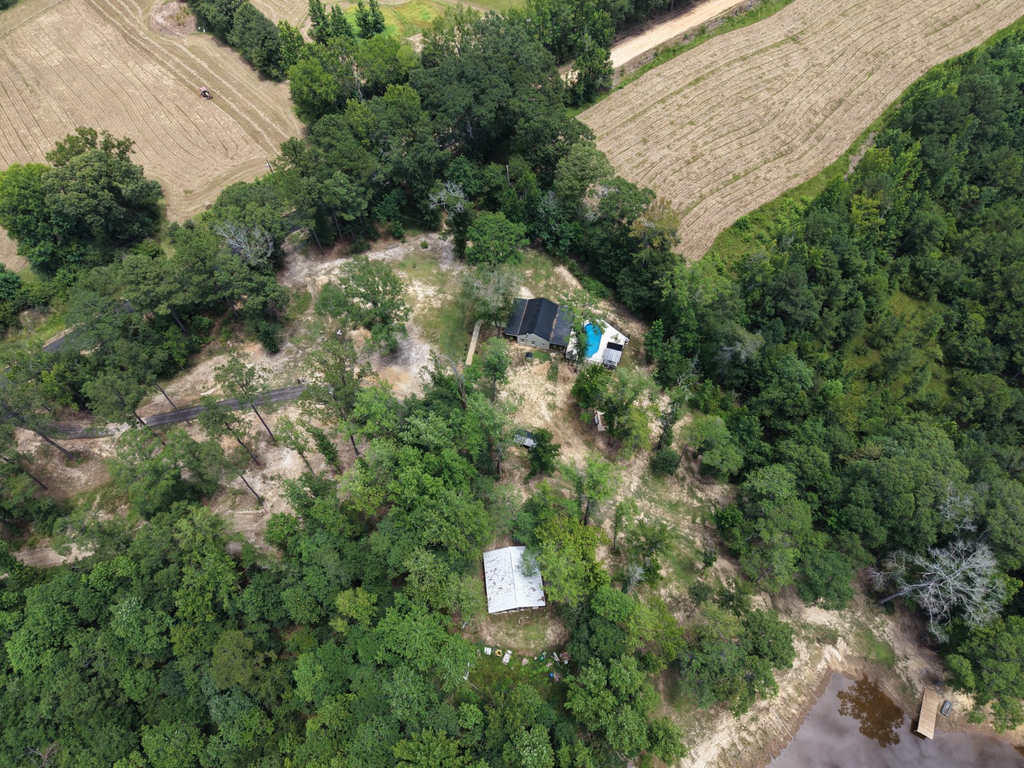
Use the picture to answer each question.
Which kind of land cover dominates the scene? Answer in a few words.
trees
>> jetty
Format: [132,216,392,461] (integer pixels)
[914,689,938,739]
